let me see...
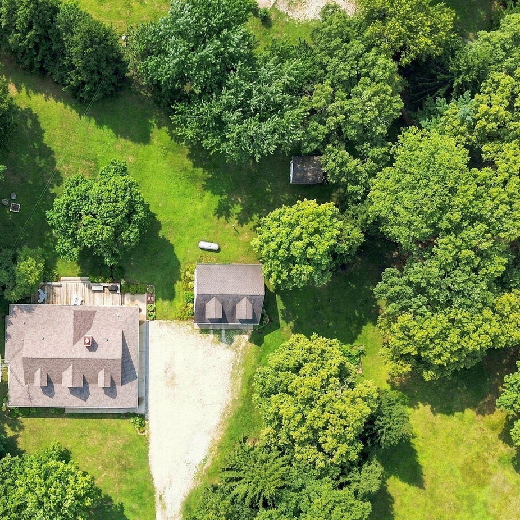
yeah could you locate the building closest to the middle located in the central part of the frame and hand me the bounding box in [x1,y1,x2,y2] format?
[193,264,265,323]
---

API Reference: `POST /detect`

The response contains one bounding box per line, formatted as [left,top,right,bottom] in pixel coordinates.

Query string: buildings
[193,264,265,323]
[289,156,327,184]
[6,304,138,408]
